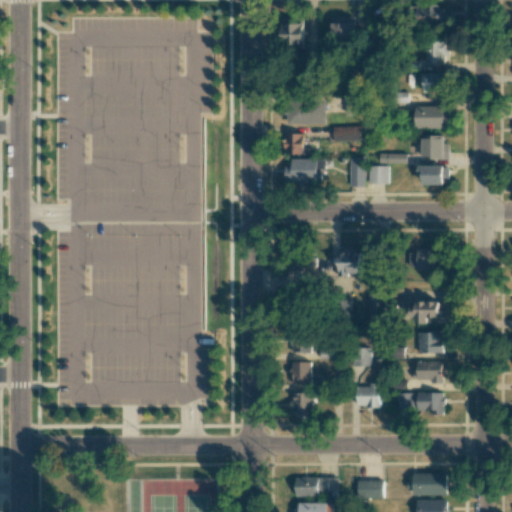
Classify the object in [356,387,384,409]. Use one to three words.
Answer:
house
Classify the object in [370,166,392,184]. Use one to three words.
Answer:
building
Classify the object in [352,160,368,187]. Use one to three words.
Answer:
building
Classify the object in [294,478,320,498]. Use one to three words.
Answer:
house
